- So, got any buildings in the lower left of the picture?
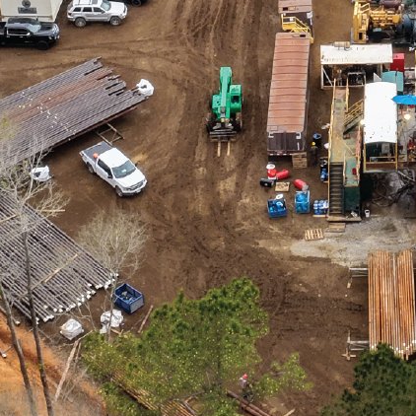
No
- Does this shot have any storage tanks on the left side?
No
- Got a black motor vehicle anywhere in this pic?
Yes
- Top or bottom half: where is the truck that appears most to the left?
top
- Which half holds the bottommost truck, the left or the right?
left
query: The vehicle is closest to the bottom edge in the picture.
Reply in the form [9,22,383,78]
[72,130,148,192]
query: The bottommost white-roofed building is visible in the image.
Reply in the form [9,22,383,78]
[363,81,400,217]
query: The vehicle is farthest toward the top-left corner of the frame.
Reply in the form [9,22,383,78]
[0,17,61,52]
